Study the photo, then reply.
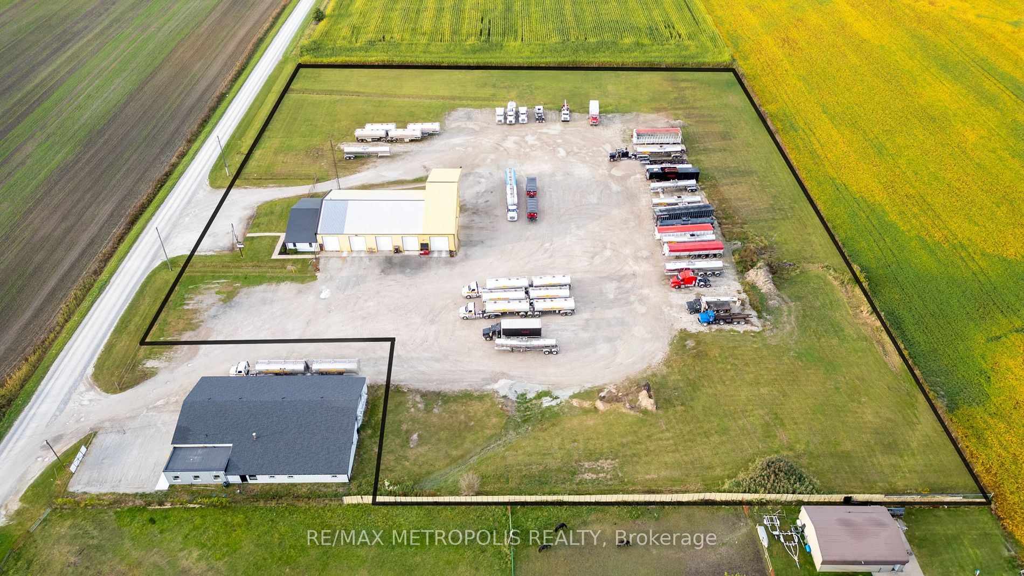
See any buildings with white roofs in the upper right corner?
No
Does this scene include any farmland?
Yes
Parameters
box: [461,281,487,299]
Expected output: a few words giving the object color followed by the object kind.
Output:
white vehicle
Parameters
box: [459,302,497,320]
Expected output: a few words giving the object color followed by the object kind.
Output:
white vehicle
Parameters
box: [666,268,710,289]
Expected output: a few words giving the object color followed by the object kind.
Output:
red truck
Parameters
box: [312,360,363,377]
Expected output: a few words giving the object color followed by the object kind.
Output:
white trailer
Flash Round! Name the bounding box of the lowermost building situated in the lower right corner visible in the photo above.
[799,505,913,573]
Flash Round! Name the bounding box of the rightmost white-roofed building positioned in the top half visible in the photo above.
[312,167,463,251]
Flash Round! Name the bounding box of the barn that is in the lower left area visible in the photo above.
[160,377,370,483]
